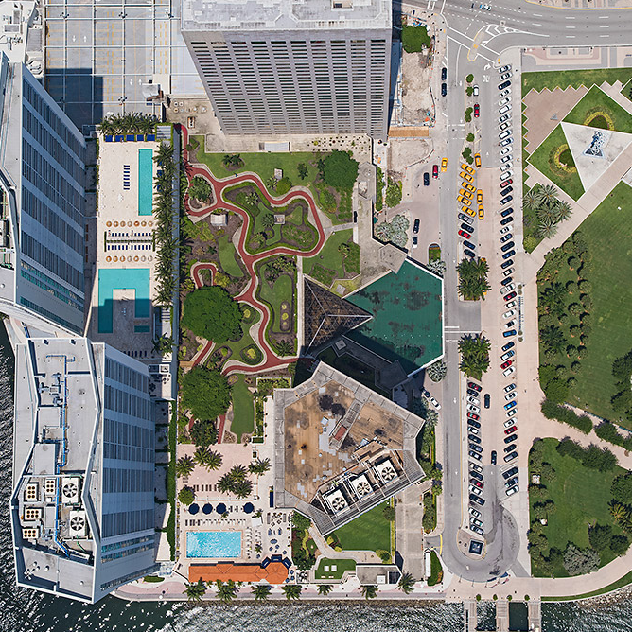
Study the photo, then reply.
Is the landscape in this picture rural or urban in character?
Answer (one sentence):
From above, the setting appears urban.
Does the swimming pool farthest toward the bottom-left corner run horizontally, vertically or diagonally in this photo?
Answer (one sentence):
Seen from above, the swimming pool farthest toward the bottom-left corner lies horizontally.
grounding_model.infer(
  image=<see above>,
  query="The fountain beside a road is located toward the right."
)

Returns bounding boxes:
[469,538,486,555]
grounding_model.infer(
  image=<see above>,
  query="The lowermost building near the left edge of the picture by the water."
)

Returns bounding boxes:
[9,337,155,602]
